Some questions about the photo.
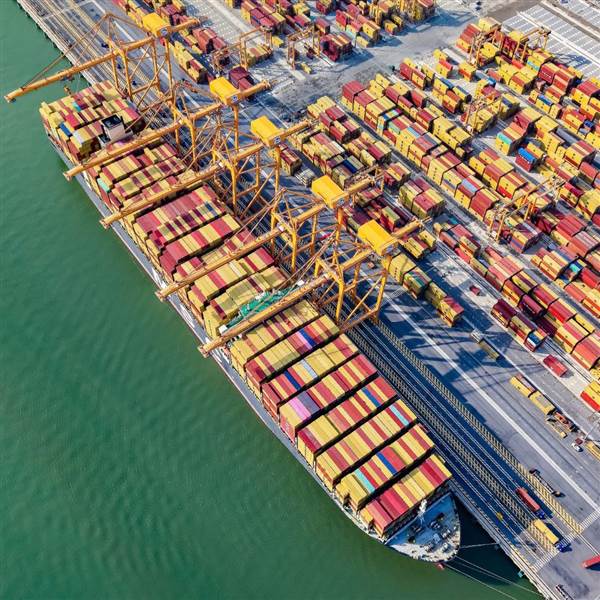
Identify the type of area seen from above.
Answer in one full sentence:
What you see here is a port.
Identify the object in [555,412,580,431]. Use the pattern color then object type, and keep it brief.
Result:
red work vehicle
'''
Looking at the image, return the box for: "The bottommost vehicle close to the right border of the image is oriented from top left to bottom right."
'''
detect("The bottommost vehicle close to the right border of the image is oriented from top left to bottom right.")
[547,578,570,600]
